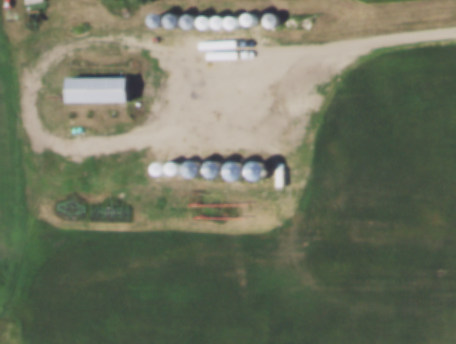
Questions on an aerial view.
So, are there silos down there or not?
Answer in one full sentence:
Yes, there is a silo in the image.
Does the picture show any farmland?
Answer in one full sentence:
Yes, there's farmland in this view.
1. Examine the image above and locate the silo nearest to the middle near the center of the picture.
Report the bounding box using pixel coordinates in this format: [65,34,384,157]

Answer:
[220,162,242,184]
